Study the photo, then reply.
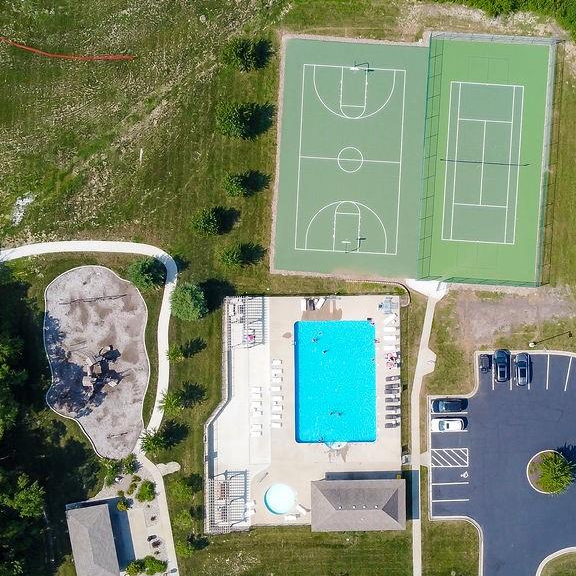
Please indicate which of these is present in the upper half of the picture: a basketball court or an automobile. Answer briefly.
basketball court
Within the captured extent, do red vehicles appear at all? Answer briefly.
No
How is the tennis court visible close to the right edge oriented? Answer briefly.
up and down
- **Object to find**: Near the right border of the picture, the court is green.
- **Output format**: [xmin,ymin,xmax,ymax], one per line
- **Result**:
[419,39,552,284]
